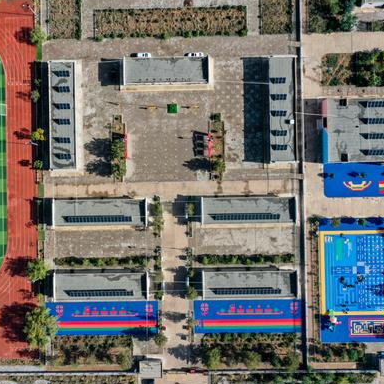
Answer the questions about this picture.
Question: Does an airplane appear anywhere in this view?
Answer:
No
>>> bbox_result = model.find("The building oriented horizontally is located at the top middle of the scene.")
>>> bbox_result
[122,54,209,88]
